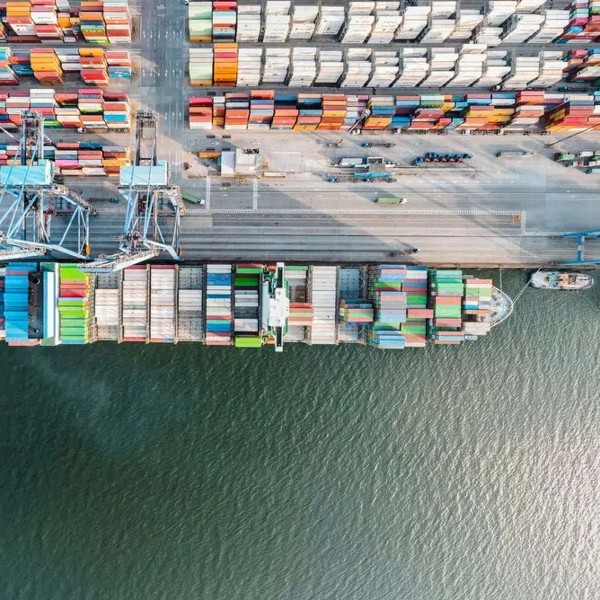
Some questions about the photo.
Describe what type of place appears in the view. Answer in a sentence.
It's a port.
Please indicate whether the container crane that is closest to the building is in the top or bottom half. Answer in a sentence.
The container crane that is closest to the building is in the top half of the image.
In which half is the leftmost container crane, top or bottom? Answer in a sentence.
You can find the leftmost container crane in the top half.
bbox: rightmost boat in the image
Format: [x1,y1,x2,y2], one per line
[527,272,594,291]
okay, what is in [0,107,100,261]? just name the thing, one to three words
container crane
